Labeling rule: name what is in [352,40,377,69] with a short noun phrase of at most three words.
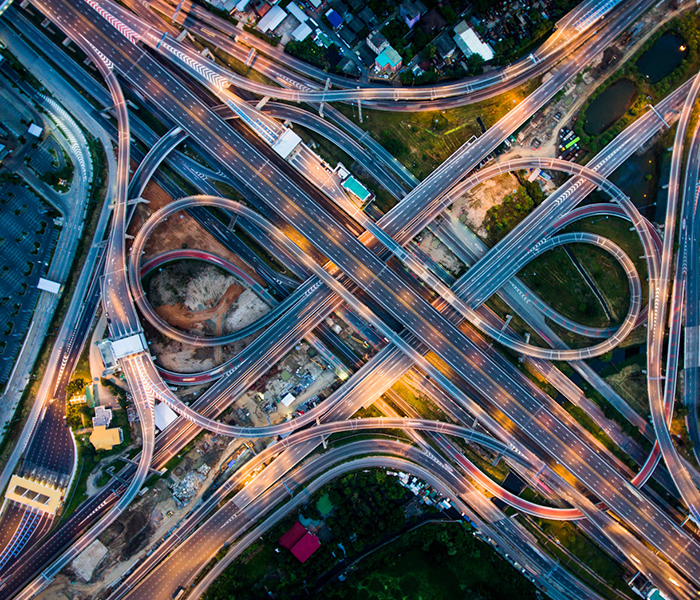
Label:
house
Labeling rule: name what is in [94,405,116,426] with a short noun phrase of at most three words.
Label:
house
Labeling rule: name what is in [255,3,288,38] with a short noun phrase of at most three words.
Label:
building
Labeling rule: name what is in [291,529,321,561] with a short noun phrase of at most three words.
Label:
building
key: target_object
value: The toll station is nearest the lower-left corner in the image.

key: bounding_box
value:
[4,469,65,513]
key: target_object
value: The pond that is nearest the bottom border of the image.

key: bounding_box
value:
[606,146,664,233]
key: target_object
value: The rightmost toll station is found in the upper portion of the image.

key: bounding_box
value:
[278,128,308,160]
